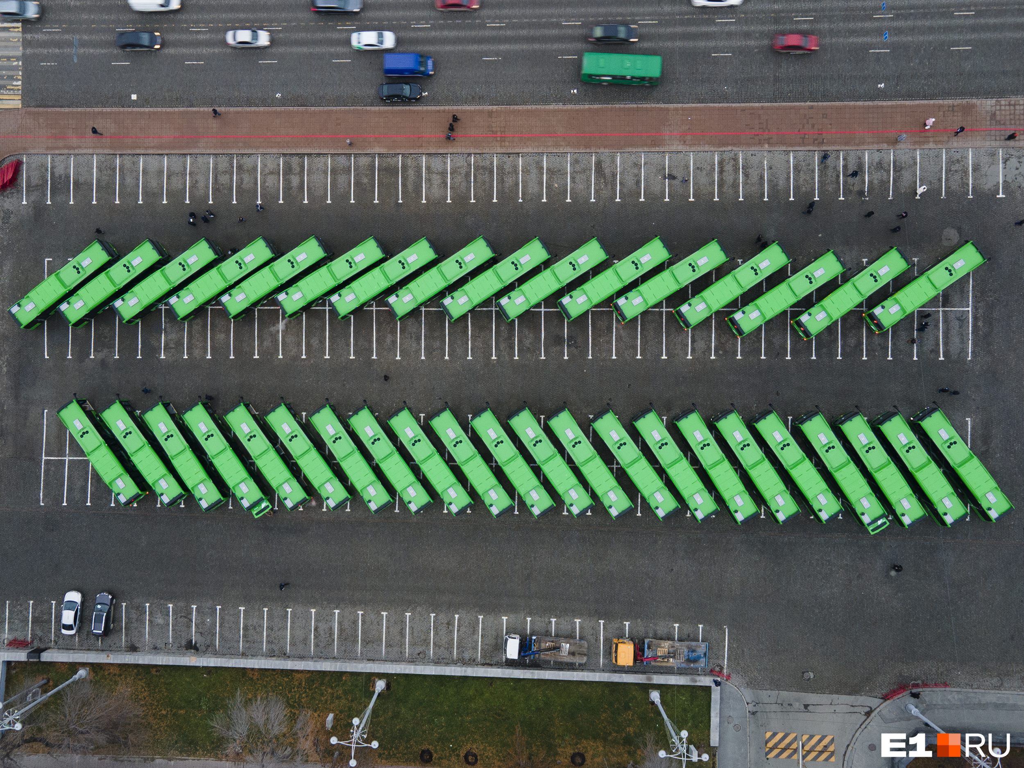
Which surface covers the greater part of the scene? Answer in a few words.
paved ground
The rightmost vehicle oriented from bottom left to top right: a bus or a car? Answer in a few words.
bus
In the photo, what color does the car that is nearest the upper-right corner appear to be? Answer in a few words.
red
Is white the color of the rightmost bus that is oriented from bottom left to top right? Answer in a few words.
No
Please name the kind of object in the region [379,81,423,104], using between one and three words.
car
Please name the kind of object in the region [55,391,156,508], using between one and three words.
bus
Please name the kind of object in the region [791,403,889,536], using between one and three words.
bus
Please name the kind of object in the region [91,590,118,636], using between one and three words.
car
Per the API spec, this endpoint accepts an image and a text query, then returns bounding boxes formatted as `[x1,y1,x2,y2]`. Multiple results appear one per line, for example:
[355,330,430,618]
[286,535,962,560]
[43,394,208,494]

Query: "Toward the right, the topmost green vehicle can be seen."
[581,52,664,89]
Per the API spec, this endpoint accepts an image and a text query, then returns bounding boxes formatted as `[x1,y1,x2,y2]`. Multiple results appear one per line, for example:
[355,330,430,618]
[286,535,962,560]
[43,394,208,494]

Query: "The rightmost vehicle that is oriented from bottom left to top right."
[856,238,993,335]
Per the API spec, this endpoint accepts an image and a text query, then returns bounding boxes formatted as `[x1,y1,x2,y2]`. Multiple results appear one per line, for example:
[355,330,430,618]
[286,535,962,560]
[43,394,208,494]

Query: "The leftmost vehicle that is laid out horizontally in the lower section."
[502,631,588,664]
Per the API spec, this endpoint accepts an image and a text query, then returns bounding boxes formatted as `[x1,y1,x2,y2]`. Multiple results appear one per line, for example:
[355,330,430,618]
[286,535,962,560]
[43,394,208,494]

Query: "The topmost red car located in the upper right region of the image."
[772,31,819,57]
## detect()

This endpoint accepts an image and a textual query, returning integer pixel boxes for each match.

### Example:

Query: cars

[227,27,272,51]
[0,0,44,22]
[772,31,819,57]
[133,0,179,16]
[437,0,479,14]
[119,30,163,54]
[314,0,362,16]
[91,590,118,636]
[352,29,397,53]
[379,81,423,104]
[590,22,637,48]
[63,589,88,634]
[692,0,741,12]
